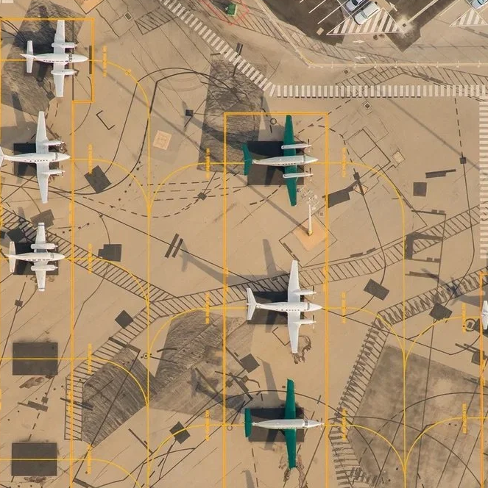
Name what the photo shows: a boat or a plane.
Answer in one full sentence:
Looking from above, you can make out a plane.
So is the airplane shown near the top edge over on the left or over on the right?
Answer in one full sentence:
The airplane shown near the top edge appears in the left half of the scene.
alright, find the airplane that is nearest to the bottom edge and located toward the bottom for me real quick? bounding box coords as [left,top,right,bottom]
[242,378,322,469]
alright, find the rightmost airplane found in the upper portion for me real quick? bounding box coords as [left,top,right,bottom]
[242,117,318,204]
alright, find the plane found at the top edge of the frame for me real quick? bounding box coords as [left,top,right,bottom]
[19,22,88,94]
